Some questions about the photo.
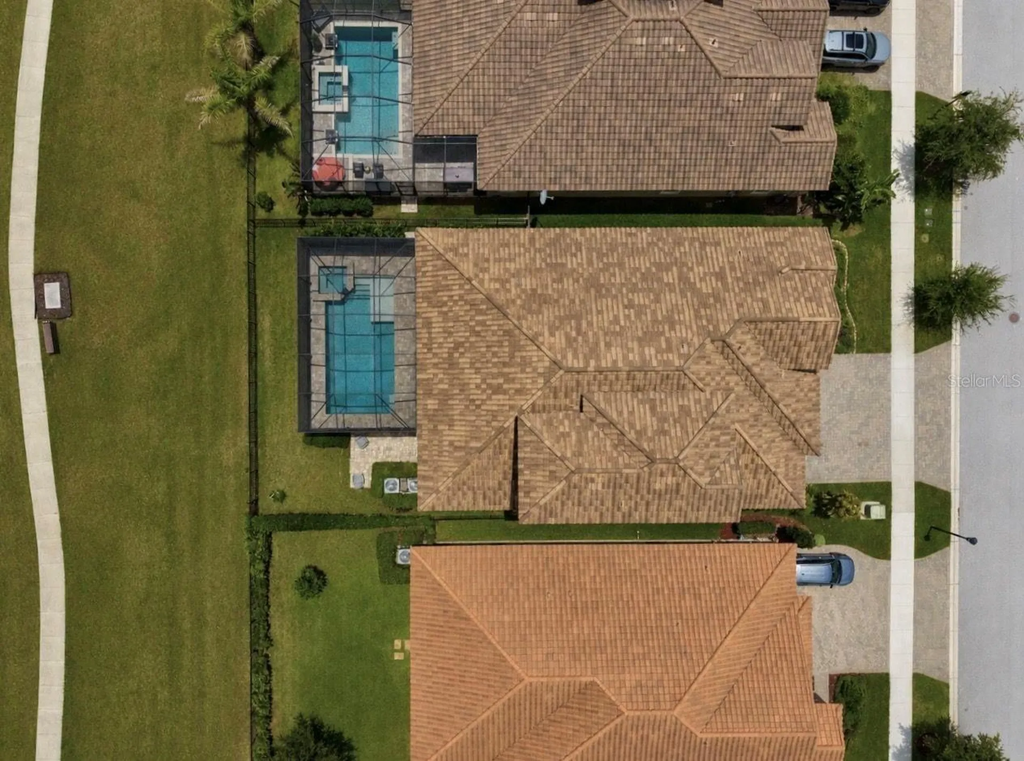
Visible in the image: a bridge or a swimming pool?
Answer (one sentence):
The one in the frame is a swimming pool.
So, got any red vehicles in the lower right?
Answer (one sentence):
No, in the lower right there is no red vehicle.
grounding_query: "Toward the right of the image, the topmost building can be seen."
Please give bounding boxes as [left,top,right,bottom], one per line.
[412,0,840,197]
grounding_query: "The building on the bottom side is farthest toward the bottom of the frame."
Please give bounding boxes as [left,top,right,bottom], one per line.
[408,540,850,761]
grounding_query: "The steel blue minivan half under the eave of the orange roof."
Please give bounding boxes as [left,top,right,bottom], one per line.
[797,552,855,592]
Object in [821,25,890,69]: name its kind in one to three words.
car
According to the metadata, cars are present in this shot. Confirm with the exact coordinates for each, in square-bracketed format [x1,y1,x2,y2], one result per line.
[821,25,890,69]
[797,552,855,592]
[829,0,888,15]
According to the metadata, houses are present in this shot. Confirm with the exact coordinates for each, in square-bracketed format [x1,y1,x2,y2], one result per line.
[414,226,842,525]
[408,540,850,761]
[412,0,840,197]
